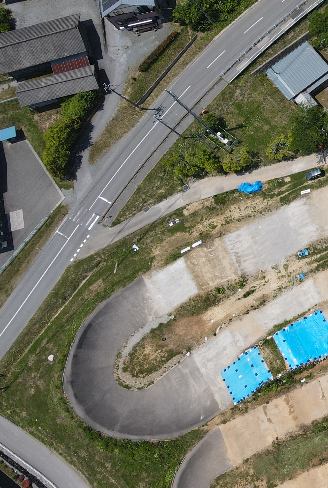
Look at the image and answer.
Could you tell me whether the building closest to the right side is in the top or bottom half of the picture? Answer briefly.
top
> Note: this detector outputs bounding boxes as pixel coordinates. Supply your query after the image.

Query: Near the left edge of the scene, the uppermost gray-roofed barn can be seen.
[0,13,94,82]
